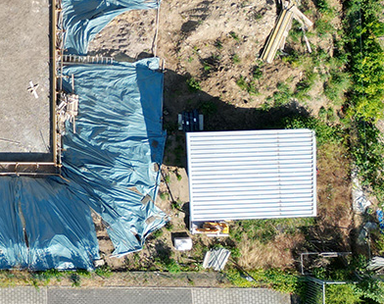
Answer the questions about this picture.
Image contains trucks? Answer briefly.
No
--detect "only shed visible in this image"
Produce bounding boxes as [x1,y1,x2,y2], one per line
[163,127,320,224]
